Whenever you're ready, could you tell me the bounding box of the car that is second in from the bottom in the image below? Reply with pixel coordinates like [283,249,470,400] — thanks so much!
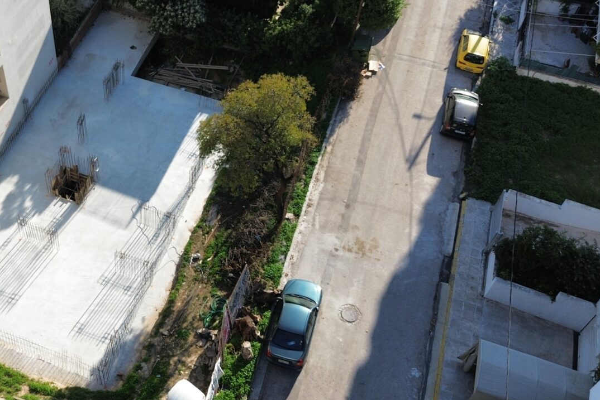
[439,80,484,134]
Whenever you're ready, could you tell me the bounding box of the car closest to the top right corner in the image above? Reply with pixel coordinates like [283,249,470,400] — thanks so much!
[455,29,493,70]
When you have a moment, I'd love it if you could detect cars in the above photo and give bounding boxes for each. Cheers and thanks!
[455,29,493,70]
[439,80,484,134]
[263,274,324,370]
